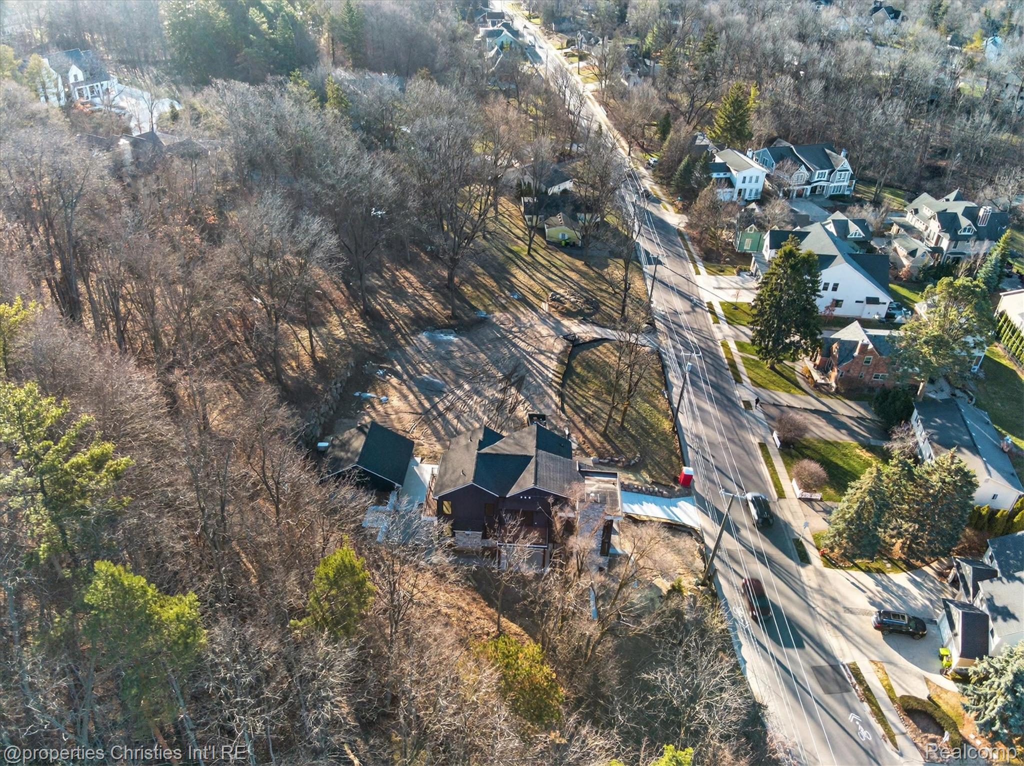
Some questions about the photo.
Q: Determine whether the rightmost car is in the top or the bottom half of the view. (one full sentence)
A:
Seen from above, the rightmost car lies in the bottom half of the view.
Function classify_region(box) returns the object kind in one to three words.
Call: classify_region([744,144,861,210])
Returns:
house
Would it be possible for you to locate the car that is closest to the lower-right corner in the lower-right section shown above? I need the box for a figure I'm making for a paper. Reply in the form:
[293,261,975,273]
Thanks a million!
[871,604,933,645]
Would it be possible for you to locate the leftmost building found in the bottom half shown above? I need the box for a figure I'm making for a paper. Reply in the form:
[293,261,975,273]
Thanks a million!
[316,422,417,498]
